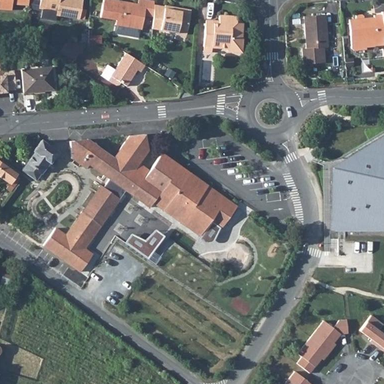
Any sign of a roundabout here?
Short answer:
Yes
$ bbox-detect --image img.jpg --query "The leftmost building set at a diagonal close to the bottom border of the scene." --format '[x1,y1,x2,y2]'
[296,320,341,373]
